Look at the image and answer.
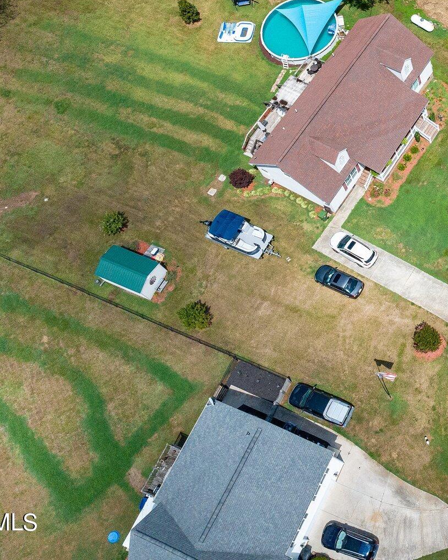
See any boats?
Yes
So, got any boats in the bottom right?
No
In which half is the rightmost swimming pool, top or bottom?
top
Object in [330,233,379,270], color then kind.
white car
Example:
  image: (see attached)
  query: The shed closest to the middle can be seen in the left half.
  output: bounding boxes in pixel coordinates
[94,244,167,299]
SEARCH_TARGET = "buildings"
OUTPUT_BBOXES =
[240,12,441,212]
[122,399,349,560]
[94,244,167,299]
